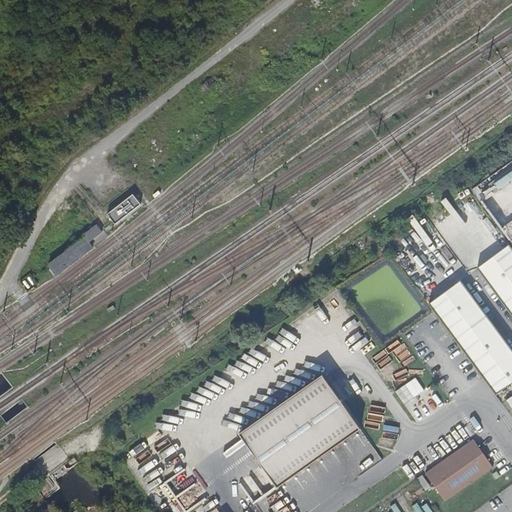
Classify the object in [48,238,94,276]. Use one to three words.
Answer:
shed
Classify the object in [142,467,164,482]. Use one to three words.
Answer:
vehicle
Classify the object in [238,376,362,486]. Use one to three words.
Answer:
building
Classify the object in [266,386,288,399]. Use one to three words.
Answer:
vehicle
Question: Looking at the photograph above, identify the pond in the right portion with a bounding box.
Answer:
[349,258,428,344]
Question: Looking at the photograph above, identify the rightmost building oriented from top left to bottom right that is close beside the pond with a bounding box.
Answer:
[430,282,512,394]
